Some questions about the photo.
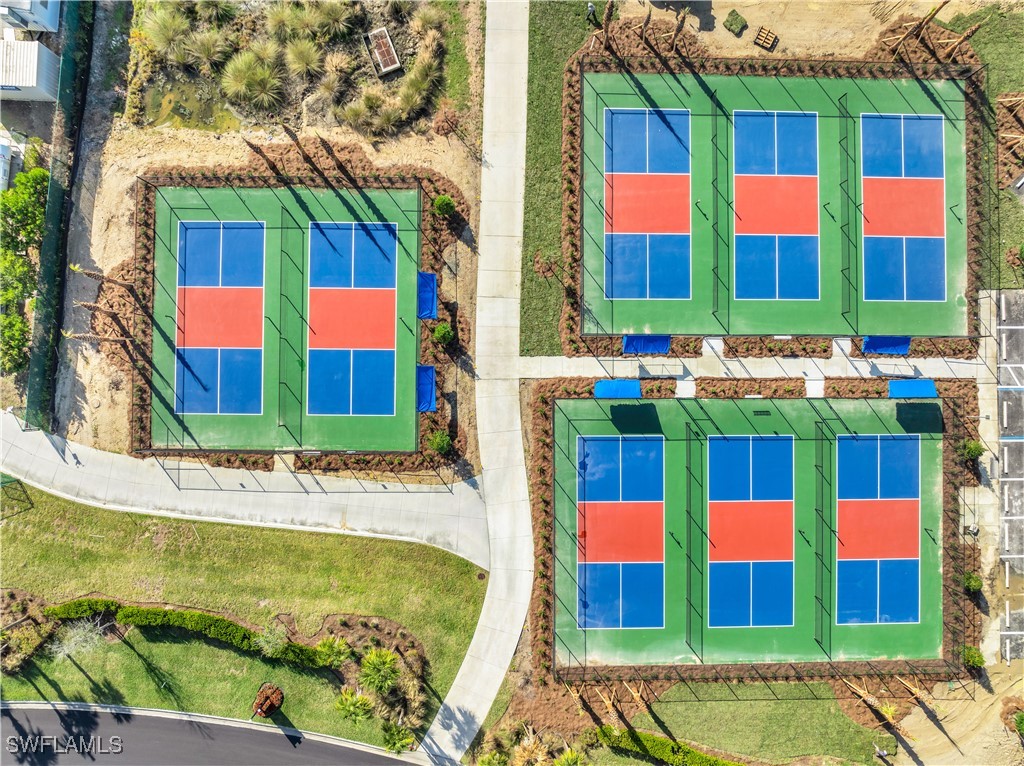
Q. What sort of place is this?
sports ground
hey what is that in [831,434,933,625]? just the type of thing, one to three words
sports court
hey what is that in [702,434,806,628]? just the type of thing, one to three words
sports court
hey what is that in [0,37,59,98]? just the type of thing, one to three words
shed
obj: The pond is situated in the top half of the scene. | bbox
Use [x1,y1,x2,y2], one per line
[139,74,246,134]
